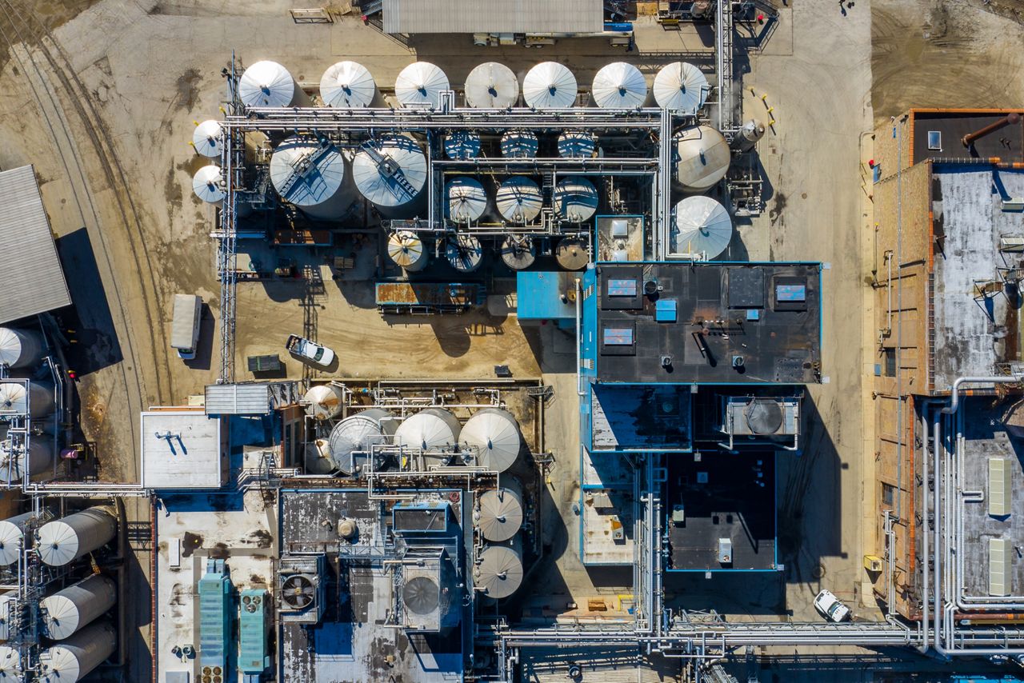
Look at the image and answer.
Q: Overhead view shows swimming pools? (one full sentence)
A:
No, there is no swimming pool in the image.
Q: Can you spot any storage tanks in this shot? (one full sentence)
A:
Yes, there's a storage tank down there.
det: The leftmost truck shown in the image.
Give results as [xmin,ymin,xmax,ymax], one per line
[169,294,210,363]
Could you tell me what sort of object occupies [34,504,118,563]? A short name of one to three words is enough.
storage tank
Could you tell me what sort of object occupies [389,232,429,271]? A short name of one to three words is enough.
storage tank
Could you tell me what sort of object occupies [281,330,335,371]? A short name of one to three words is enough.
truck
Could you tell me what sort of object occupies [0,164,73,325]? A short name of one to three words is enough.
shed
